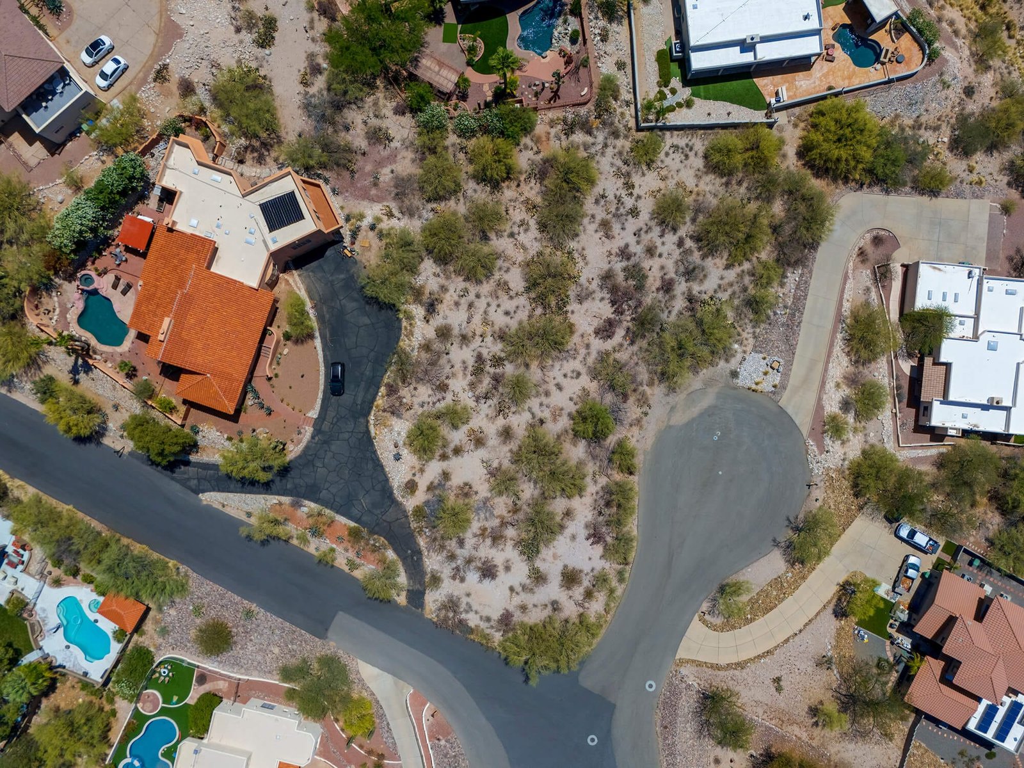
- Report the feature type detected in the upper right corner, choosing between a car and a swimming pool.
swimming pool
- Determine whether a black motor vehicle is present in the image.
Yes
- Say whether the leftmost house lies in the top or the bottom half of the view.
top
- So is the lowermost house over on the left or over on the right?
left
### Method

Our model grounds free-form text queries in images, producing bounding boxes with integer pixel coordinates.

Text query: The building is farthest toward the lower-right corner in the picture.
[899,566,1024,753]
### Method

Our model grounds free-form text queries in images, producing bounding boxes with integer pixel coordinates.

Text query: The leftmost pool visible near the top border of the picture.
[516,0,569,56]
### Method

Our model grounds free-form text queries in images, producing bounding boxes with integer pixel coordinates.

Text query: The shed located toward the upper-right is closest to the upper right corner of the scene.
[845,0,899,33]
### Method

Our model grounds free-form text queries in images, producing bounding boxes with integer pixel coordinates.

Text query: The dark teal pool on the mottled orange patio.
[832,22,882,68]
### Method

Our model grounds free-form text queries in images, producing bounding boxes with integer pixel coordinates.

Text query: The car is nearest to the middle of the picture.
[328,361,345,396]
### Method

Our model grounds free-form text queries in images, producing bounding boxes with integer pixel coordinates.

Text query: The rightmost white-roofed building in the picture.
[901,261,1024,437]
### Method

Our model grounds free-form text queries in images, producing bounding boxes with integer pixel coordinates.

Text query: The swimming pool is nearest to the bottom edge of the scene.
[123,715,180,768]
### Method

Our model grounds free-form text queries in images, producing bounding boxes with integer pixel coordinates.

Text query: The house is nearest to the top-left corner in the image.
[0,0,102,144]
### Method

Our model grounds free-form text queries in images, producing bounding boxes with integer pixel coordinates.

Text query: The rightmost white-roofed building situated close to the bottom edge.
[173,689,328,768]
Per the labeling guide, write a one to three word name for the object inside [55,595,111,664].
swimming pool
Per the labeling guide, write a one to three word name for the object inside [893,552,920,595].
truck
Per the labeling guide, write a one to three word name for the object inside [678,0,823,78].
house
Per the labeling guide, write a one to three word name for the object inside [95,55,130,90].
car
